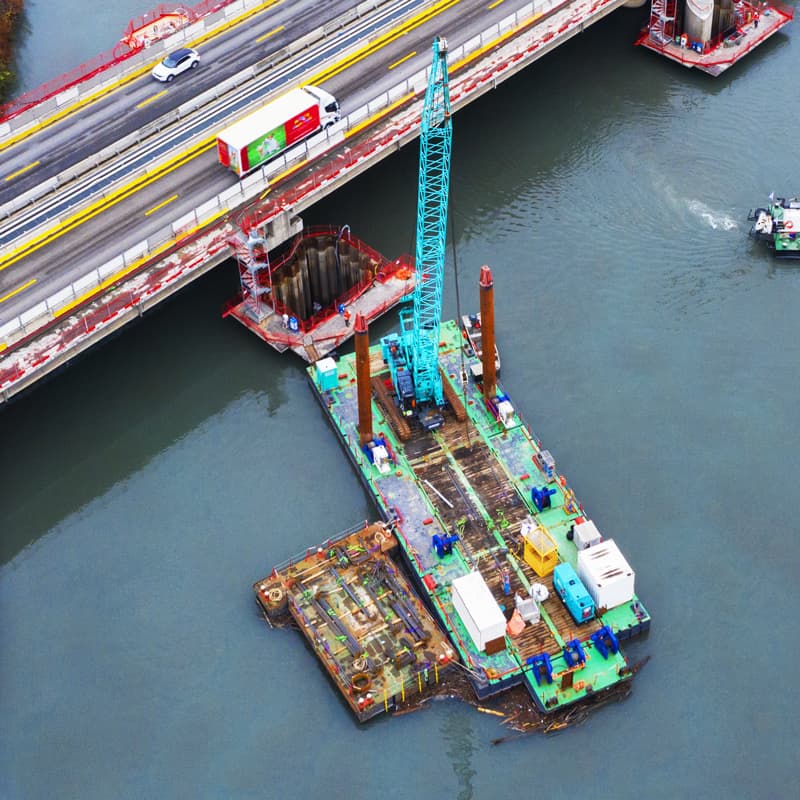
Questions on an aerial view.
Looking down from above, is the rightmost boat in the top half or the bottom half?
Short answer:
top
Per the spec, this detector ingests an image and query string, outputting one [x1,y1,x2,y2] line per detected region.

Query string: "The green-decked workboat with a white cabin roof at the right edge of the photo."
[746,188,800,260]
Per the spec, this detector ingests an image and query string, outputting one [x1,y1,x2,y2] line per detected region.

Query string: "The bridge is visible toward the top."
[0,0,655,405]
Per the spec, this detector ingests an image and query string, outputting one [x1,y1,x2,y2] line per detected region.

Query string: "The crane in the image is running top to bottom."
[371,27,472,452]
